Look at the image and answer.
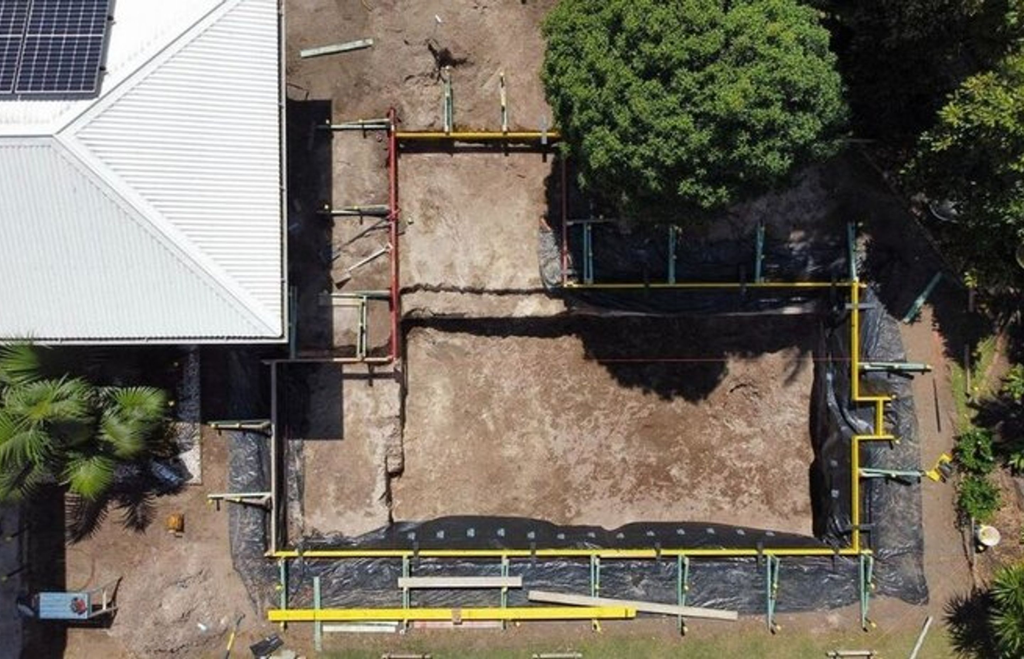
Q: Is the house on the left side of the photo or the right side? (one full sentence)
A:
The house is on the left side of the image.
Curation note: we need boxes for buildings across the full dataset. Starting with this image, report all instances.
[0,0,290,361]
